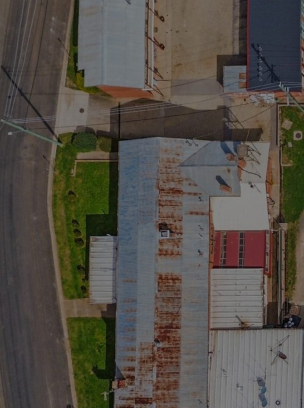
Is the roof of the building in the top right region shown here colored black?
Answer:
Yes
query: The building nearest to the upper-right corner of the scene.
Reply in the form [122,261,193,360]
[224,0,304,99]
